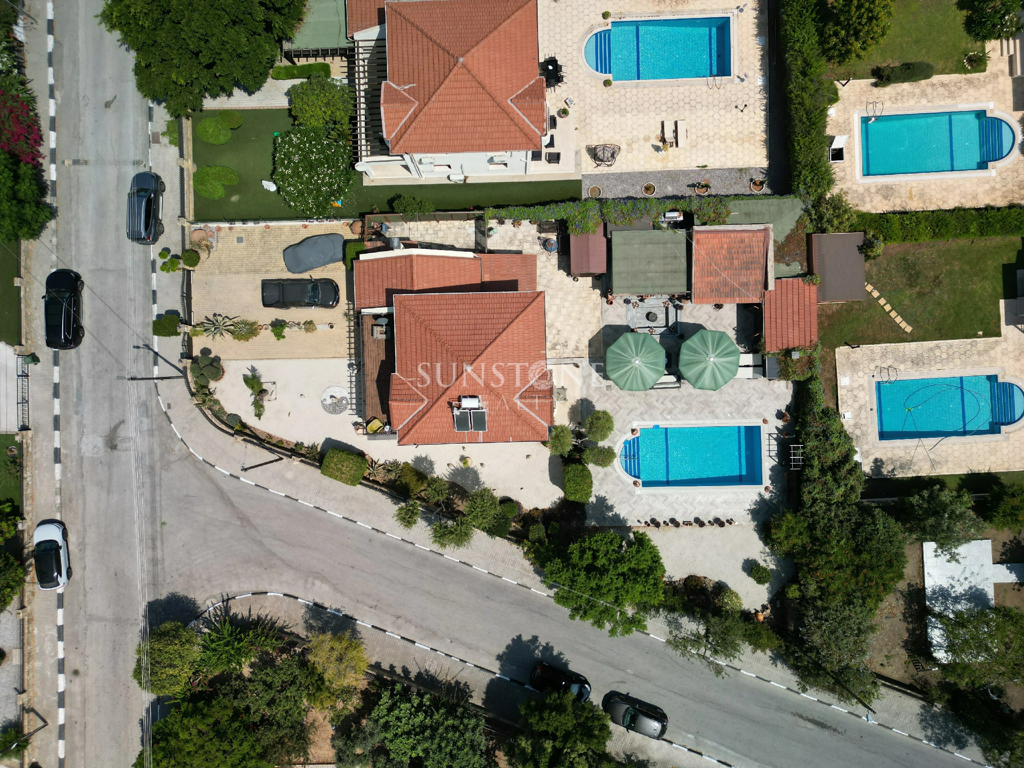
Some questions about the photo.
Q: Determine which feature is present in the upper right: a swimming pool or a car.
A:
swimming pool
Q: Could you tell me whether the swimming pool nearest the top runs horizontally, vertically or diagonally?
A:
horizontally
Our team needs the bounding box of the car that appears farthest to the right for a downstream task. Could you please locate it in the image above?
[603,693,671,745]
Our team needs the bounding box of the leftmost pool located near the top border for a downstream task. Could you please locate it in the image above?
[577,8,741,89]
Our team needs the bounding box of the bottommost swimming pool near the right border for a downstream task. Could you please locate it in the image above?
[868,365,1024,449]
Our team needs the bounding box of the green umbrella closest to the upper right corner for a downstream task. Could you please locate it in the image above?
[677,330,738,390]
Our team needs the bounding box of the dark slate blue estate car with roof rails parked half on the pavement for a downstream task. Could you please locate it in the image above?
[122,171,163,243]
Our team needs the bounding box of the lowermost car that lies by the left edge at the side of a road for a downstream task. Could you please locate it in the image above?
[29,524,73,590]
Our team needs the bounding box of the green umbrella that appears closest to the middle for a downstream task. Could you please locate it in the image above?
[606,333,663,390]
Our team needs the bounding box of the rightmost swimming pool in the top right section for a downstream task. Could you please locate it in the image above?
[853,101,1023,185]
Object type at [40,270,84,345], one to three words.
car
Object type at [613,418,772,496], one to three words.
swimming pool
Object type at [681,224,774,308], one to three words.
building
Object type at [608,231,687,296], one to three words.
house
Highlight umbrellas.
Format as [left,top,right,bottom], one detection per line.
[677,330,738,390]
[606,333,663,390]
